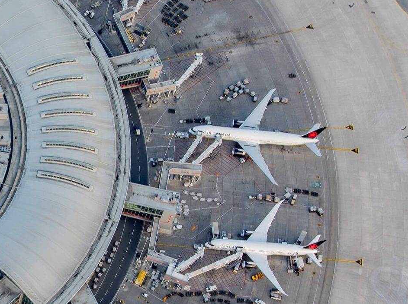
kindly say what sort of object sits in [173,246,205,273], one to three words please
jet bridge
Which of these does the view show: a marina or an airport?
airport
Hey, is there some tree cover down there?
No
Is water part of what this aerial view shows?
No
